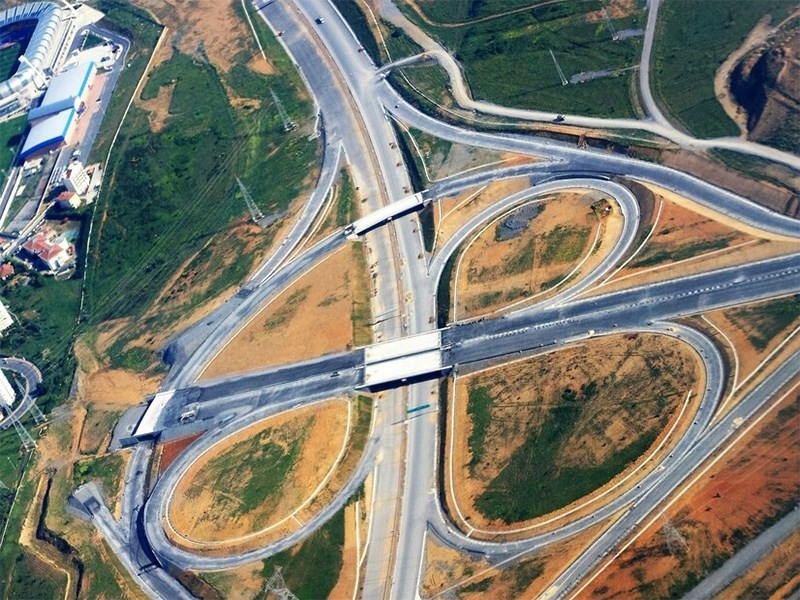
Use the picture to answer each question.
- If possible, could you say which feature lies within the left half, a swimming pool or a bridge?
bridge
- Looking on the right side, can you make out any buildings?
No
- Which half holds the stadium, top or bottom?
top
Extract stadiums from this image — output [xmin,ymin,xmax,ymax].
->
[0,0,78,127]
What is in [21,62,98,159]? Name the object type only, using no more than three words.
building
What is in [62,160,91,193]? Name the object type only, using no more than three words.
building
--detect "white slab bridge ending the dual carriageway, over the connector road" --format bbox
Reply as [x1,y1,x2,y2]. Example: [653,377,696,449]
[118,389,176,446]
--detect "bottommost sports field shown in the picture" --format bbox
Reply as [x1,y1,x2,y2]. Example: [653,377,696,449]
[0,119,31,193]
